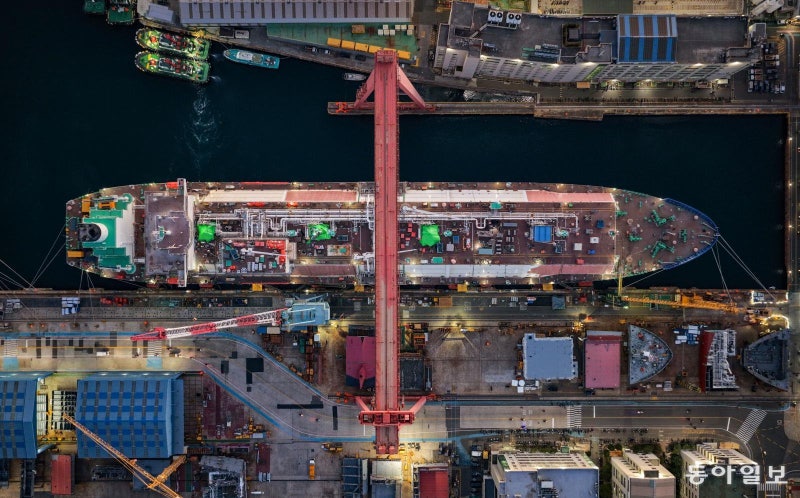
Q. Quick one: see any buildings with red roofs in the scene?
Yes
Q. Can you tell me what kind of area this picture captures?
port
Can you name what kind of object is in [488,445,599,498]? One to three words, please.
building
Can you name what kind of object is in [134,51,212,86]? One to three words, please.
boat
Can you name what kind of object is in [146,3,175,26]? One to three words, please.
shed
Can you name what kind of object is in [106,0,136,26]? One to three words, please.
ship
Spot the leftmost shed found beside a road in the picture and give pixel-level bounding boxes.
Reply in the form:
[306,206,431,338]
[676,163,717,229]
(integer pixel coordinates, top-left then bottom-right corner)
[0,368,37,459]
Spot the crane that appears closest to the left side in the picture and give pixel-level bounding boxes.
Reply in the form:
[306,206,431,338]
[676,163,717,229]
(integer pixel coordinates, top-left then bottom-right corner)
[62,415,189,498]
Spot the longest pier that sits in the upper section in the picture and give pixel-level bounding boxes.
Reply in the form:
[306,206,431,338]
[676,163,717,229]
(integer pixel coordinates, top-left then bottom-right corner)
[327,101,785,121]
